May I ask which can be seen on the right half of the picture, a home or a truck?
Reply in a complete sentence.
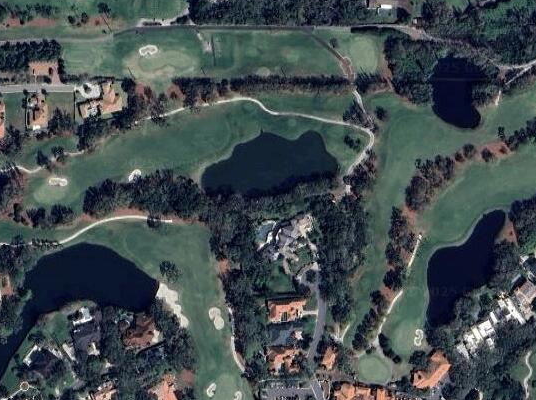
Visible on the right half of the picture is a home.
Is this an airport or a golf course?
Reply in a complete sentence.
This looks like a golf course.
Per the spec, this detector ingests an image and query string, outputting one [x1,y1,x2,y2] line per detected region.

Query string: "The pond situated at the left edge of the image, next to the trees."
[0,242,158,382]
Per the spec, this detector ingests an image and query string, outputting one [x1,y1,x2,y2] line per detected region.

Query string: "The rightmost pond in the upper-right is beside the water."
[432,57,483,129]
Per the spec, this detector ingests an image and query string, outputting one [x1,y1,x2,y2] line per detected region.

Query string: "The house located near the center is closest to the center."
[264,214,316,260]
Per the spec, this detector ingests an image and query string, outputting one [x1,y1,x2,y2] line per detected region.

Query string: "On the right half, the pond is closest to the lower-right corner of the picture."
[425,210,506,329]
